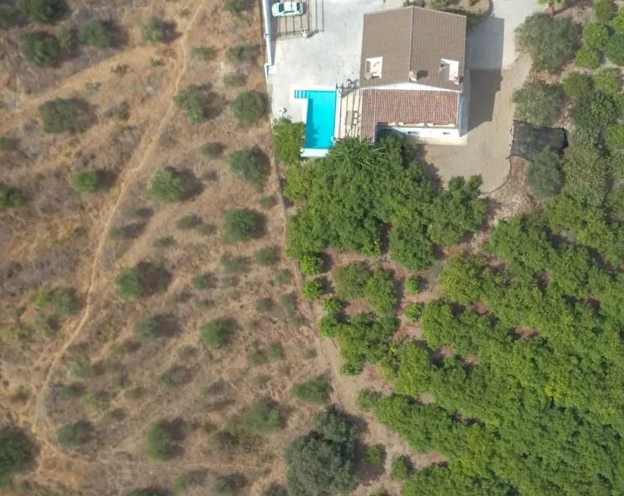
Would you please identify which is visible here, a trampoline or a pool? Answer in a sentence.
Visible in the photo is a pool.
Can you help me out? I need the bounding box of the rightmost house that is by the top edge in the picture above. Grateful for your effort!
[360,6,472,148]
